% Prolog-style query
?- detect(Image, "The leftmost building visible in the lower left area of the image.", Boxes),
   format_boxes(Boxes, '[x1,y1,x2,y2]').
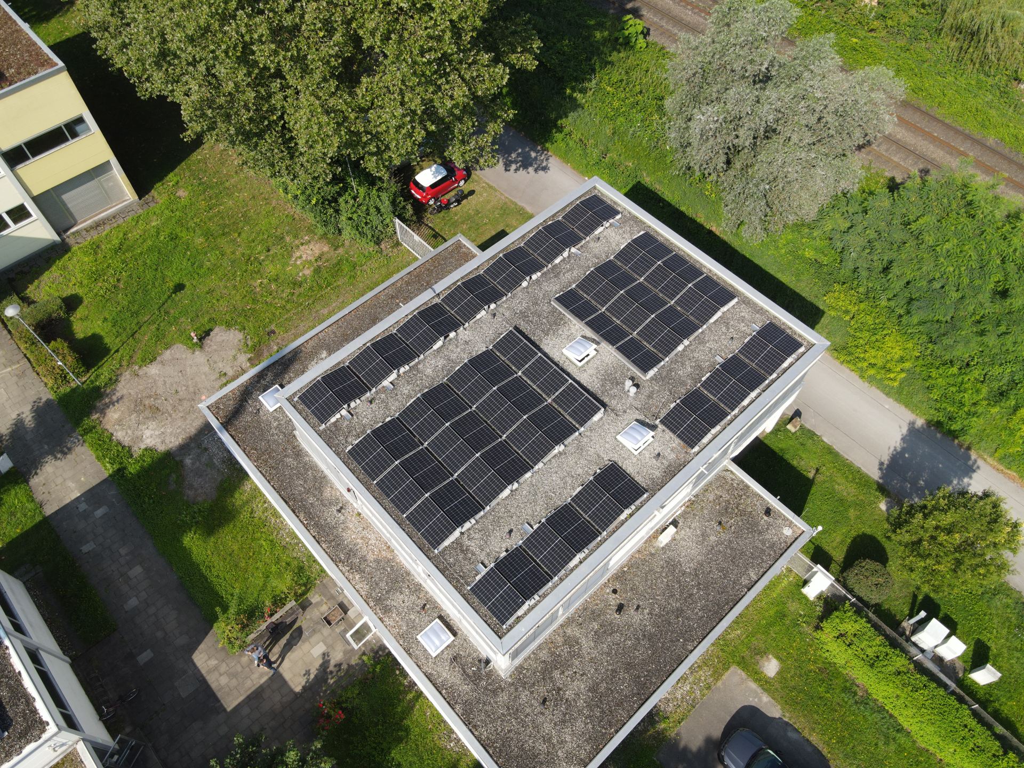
[0,565,131,768]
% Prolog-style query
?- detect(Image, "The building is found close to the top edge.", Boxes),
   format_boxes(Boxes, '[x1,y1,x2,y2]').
[0,0,141,272]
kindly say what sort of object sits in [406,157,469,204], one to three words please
car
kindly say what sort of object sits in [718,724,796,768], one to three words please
car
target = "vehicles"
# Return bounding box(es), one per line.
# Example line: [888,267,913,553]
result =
[428,188,461,215]
[718,724,796,768]
[406,157,469,204]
